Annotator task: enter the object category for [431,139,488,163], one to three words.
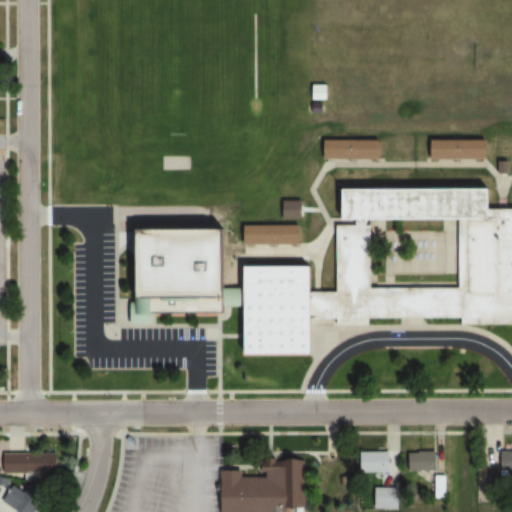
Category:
building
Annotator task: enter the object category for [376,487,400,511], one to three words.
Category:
building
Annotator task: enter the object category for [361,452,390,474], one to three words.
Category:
house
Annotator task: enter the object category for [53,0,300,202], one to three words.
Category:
sports field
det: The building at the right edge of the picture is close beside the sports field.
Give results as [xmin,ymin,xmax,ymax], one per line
[310,188,512,326]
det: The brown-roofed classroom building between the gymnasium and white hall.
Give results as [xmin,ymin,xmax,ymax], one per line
[244,224,302,248]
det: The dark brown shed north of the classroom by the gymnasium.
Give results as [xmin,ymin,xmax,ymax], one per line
[283,200,302,219]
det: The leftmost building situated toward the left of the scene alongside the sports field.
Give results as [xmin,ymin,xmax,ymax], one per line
[130,228,241,325]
